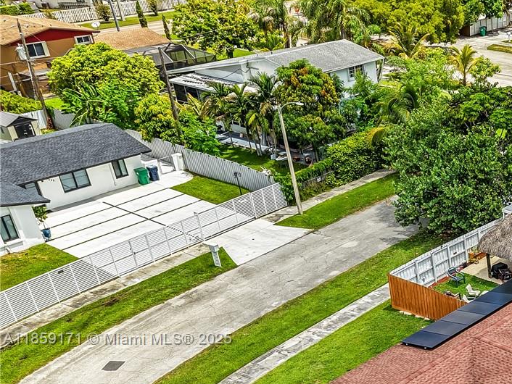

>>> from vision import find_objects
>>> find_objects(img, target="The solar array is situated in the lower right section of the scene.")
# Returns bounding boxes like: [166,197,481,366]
[402,279,512,345]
